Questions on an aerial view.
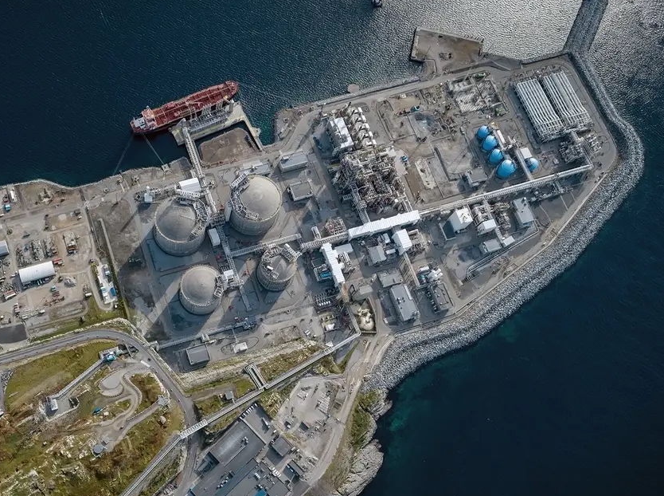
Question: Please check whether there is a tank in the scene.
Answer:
Yes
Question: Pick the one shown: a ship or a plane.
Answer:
ship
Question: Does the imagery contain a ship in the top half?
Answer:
Yes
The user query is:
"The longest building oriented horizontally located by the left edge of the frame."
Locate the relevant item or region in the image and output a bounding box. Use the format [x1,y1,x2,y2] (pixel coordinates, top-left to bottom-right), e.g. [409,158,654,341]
[18,261,55,283]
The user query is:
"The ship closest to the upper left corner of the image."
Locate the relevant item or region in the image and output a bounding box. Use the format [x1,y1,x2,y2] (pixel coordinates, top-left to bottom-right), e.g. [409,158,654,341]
[129,83,239,136]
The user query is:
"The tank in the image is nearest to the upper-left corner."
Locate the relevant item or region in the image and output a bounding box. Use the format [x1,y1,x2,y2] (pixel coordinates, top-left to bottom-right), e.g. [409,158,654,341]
[152,194,207,257]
